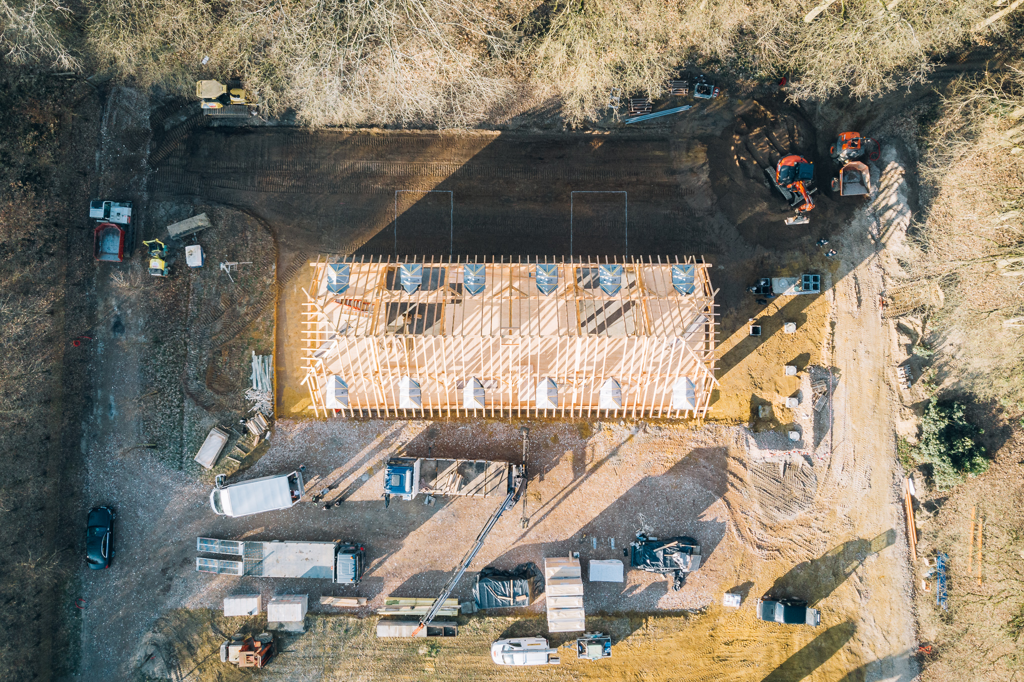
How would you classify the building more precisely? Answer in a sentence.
From above, the building can be identified as a house.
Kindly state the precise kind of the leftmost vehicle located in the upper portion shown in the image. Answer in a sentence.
The leftmost vehicle located in the upper portion is a truck.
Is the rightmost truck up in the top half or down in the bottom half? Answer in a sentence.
You can find the rightmost truck in the top half.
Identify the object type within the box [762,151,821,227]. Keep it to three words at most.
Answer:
work vehicle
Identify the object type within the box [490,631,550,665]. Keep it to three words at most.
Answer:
van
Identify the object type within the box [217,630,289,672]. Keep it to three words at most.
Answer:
work vehicle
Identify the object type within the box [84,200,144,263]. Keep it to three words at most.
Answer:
truck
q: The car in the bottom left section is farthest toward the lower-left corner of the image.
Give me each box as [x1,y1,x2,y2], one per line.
[83,504,120,569]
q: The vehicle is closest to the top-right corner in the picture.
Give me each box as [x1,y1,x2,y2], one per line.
[828,131,875,194]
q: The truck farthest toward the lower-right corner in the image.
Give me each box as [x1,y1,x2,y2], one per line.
[750,590,824,628]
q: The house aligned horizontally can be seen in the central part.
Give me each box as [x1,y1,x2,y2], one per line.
[300,256,721,421]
